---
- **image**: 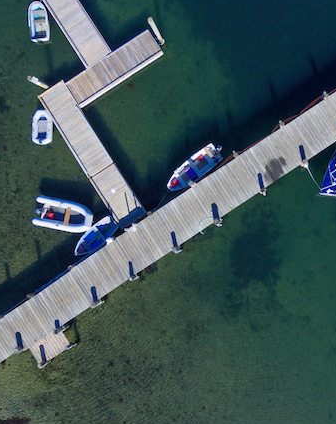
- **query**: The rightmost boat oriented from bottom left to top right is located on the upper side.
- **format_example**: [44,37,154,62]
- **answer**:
[167,143,223,189]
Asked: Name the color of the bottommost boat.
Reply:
blue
